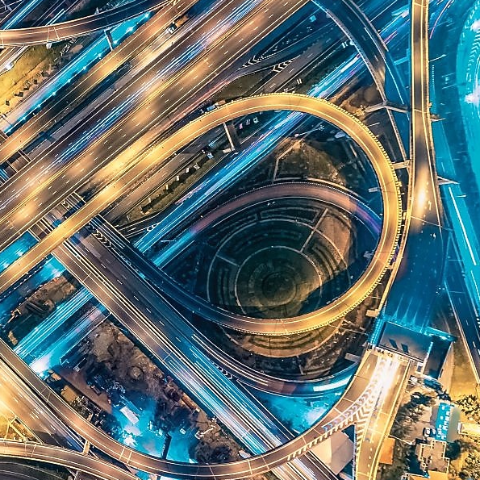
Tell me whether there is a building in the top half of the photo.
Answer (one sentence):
No, in the top half of the photo there is no building.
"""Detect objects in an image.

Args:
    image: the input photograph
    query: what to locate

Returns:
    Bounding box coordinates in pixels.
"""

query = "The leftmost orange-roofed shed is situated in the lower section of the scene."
[379,438,396,465]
